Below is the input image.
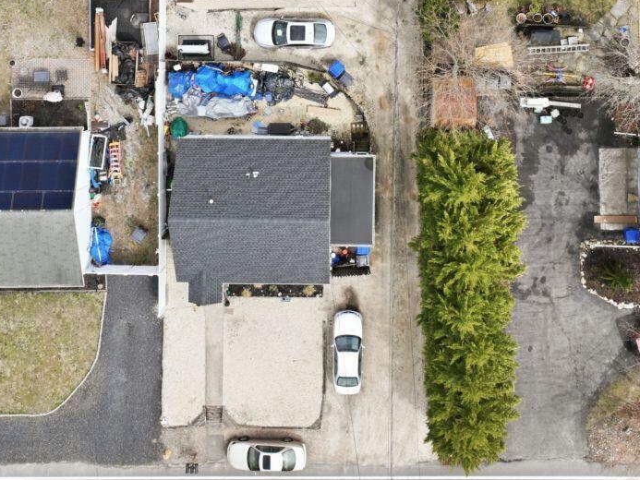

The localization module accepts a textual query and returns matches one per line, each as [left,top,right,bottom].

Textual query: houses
[0,127,90,291]
[168,136,374,305]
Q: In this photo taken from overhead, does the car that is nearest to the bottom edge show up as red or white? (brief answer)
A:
white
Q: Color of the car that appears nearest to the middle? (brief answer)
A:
white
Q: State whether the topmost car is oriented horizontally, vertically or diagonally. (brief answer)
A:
horizontally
